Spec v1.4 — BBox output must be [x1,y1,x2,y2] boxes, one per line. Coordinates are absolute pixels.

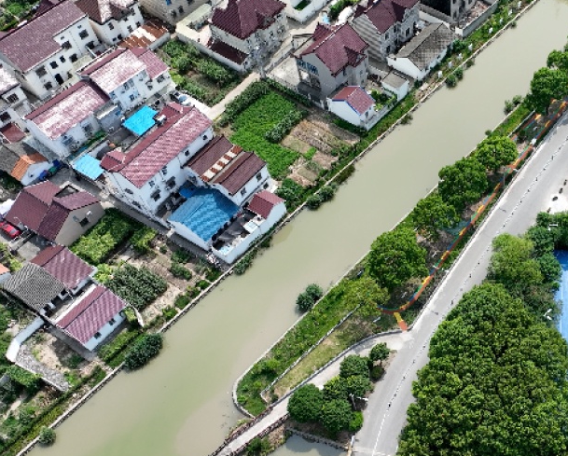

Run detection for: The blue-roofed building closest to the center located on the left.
[168,181,245,251]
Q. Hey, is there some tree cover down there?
Yes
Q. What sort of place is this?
residential area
